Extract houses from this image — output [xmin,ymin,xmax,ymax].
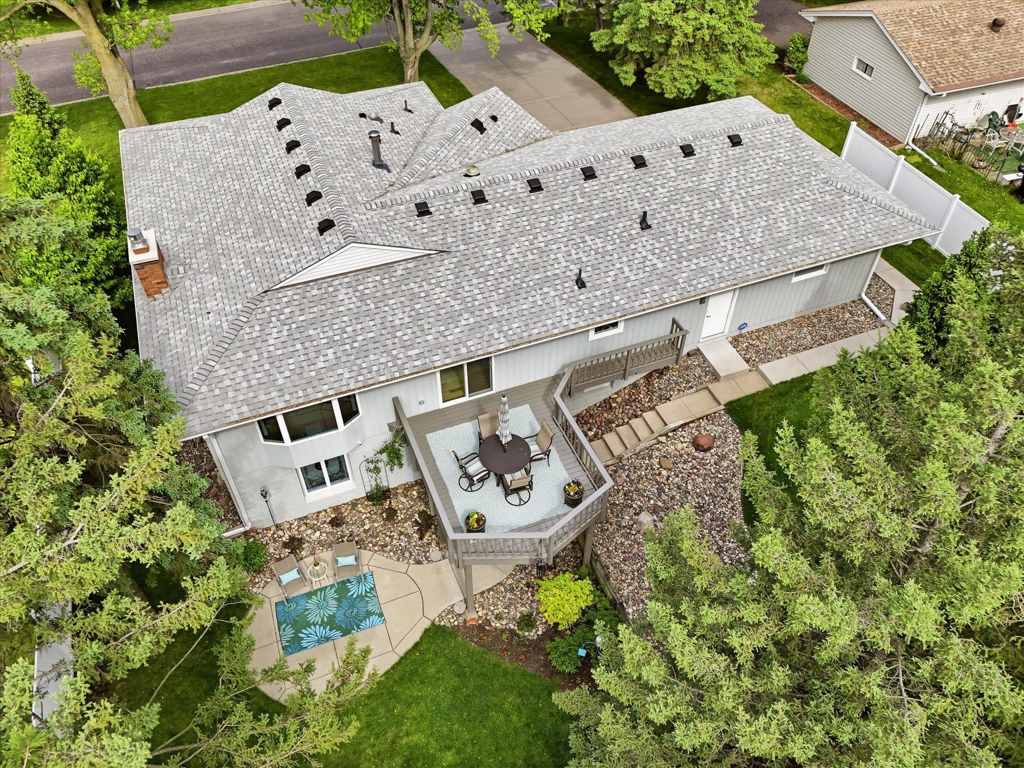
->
[115,80,944,543]
[786,0,1024,167]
